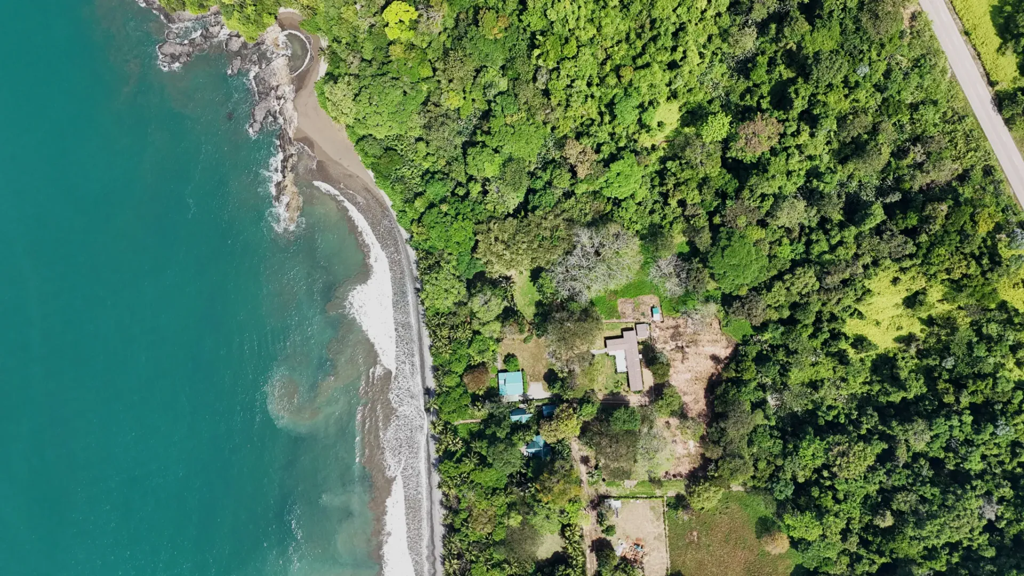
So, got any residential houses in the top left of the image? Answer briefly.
No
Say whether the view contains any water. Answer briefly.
Yes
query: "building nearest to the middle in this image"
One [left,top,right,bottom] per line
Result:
[498,372,523,402]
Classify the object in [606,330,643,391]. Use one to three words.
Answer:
house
